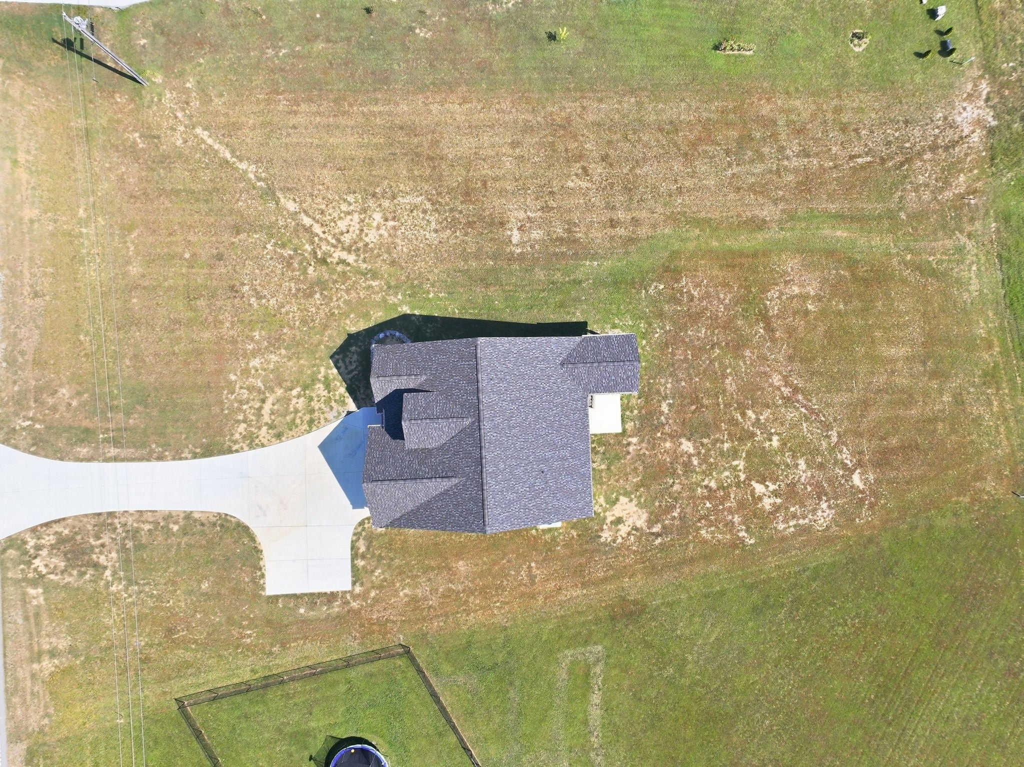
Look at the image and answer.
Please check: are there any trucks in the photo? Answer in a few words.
No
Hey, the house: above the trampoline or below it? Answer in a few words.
above it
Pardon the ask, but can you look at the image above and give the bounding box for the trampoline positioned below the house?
[330,739,395,767]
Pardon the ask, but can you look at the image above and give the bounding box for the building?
[361,331,641,534]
